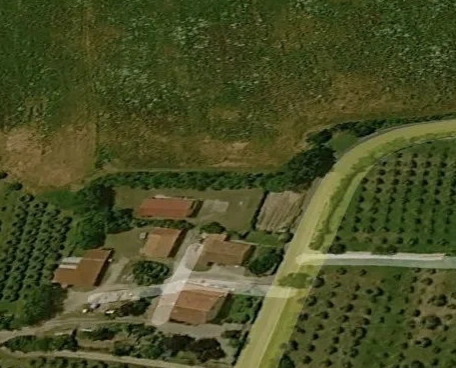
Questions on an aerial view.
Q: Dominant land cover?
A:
grass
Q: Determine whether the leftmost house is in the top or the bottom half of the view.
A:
bottom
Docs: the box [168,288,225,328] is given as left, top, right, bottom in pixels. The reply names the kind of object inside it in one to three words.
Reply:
house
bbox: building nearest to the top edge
[135,198,194,221]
